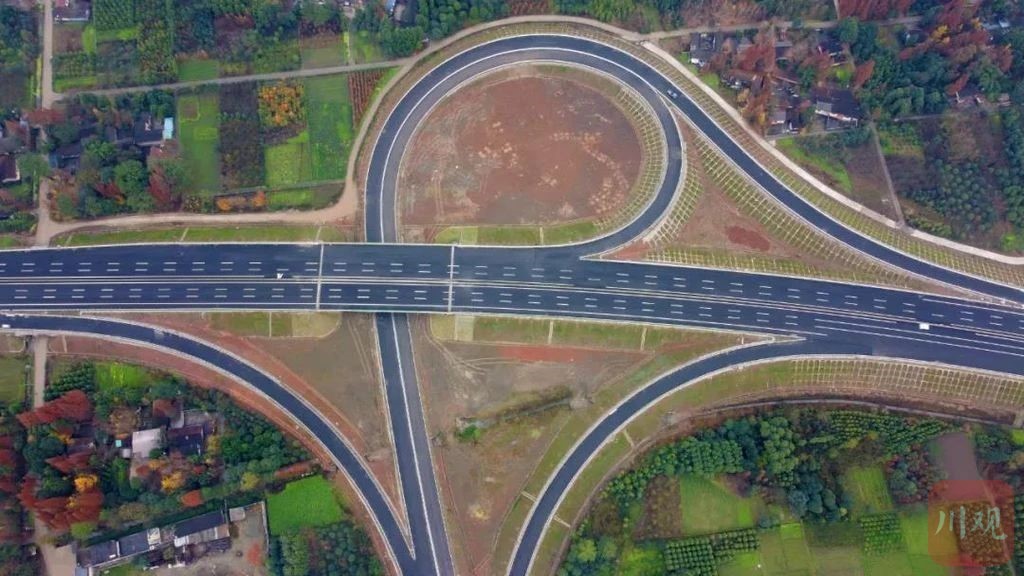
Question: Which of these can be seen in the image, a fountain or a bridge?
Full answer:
There is a bridge in the scene.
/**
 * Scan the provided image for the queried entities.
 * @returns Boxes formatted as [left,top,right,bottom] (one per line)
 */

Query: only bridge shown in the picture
[317,242,454,315]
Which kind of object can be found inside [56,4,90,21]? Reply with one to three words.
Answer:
house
